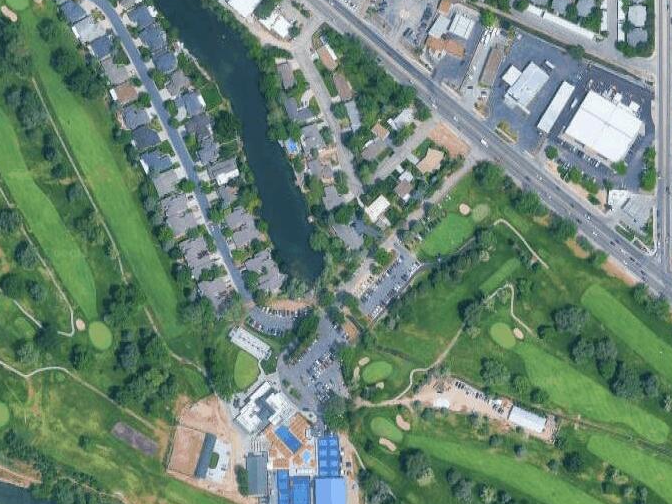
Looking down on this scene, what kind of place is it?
golf course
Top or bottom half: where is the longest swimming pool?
bottom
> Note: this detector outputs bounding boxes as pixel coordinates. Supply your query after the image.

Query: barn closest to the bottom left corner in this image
[195,434,217,479]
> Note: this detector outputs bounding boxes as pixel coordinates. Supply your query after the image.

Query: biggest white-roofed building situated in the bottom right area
[510,406,547,432]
